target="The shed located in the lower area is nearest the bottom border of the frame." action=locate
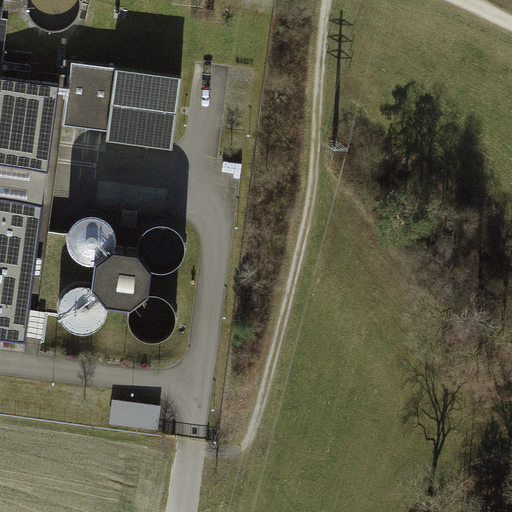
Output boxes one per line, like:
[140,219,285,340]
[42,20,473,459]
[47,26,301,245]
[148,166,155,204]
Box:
[109,400,160,430]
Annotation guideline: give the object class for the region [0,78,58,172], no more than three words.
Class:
building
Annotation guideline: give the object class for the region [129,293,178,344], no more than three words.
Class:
storage tank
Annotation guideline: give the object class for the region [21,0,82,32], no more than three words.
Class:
storage tank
